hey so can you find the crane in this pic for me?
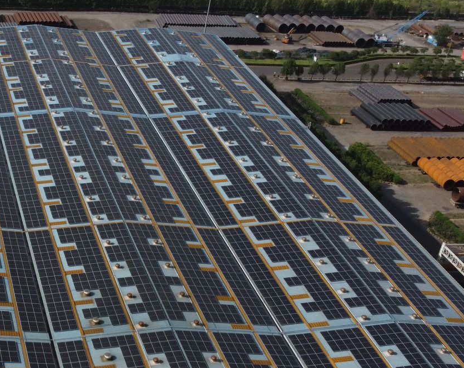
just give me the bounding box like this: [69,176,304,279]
[375,11,428,49]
